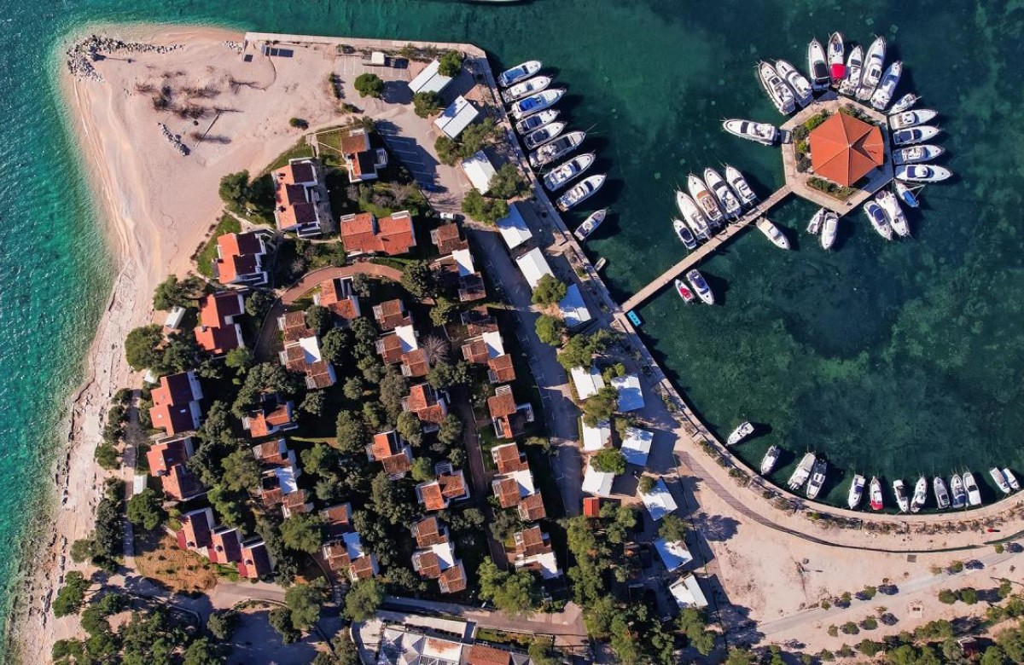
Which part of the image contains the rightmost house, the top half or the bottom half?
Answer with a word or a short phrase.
bottom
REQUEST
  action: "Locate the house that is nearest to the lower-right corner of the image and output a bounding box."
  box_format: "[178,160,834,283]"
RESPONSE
[948,628,978,658]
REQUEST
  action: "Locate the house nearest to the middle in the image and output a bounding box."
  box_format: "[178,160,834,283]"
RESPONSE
[461,307,515,384]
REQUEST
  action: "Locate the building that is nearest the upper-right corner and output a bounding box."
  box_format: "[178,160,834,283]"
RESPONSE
[806,111,884,187]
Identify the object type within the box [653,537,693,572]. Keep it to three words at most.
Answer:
building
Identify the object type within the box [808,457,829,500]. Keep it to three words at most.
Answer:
boat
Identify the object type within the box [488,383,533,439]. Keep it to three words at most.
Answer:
house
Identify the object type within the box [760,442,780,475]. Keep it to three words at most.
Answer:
boat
